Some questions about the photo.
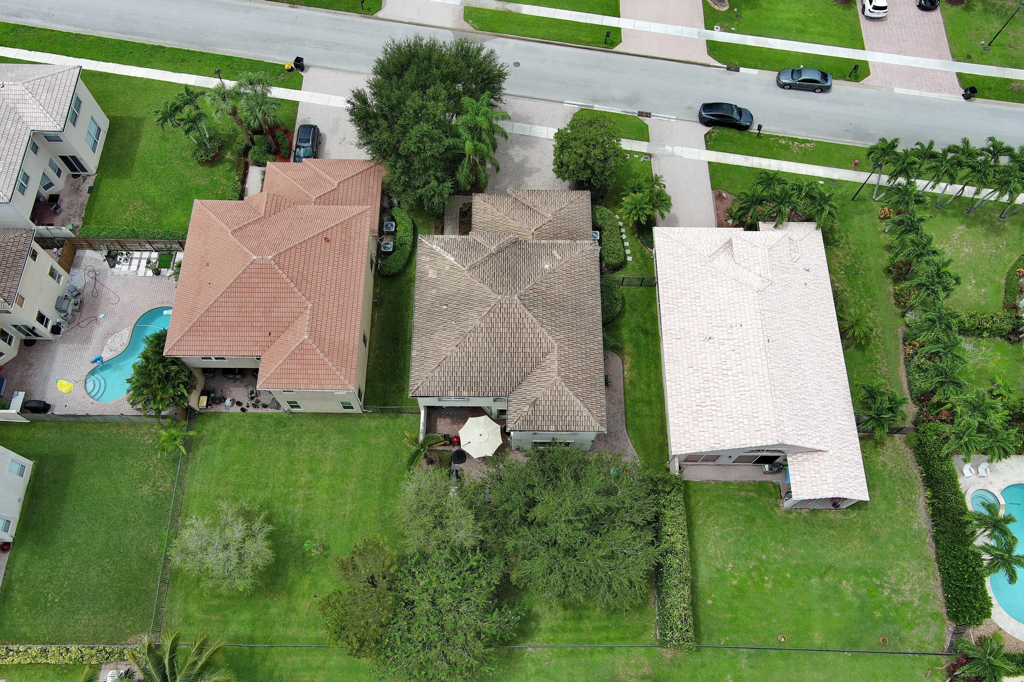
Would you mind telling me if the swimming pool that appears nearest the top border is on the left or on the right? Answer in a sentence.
The swimming pool that appears nearest the top border appears in the left half of the scene.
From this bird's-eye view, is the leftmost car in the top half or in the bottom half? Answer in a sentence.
You can find the leftmost car in the top half.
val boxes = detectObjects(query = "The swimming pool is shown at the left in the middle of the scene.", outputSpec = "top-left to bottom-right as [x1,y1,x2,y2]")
[72,303,172,406]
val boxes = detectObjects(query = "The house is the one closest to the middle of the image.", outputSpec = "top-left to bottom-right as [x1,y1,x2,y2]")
[408,188,609,452]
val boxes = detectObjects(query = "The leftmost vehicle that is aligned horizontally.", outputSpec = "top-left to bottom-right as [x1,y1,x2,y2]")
[700,102,755,130]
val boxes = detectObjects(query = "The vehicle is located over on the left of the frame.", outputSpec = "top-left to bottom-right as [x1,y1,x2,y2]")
[292,117,324,162]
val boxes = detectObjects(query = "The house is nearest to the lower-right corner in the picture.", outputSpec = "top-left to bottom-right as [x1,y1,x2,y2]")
[651,220,871,508]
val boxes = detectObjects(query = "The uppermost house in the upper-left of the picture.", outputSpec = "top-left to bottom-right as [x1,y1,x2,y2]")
[0,62,110,240]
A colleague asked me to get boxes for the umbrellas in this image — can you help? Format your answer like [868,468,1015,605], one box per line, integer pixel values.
[450,415,502,466]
